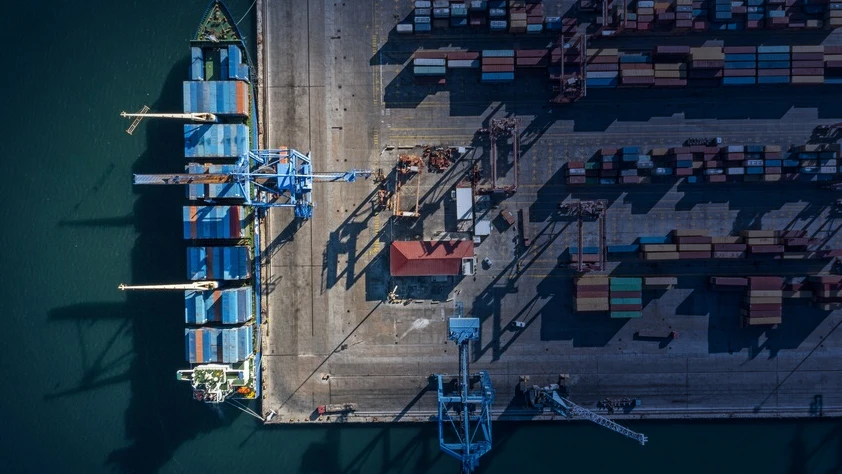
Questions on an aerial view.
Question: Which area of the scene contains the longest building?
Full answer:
The longest building is located in the center region of the scene.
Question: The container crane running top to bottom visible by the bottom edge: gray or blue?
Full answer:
From above, the container crane running top to bottom visible by the bottom edge appears blue.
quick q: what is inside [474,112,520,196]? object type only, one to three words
container crane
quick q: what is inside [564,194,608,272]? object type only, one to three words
container crane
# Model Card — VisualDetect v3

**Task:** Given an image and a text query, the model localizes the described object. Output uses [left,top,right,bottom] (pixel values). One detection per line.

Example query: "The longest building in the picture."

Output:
[390,239,475,277]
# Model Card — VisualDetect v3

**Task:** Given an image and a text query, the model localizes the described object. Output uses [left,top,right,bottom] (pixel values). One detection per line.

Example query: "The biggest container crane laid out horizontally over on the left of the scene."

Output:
[132,148,372,219]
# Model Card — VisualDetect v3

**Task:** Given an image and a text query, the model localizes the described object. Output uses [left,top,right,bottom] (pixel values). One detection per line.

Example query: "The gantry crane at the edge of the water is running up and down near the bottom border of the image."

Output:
[430,298,502,474]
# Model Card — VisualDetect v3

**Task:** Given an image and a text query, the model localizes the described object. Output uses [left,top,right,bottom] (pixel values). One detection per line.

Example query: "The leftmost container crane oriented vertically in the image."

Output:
[396,149,424,219]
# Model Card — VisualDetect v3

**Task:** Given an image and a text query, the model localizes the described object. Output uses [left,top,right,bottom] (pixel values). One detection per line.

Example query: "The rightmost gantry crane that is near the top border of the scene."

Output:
[589,0,631,44]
